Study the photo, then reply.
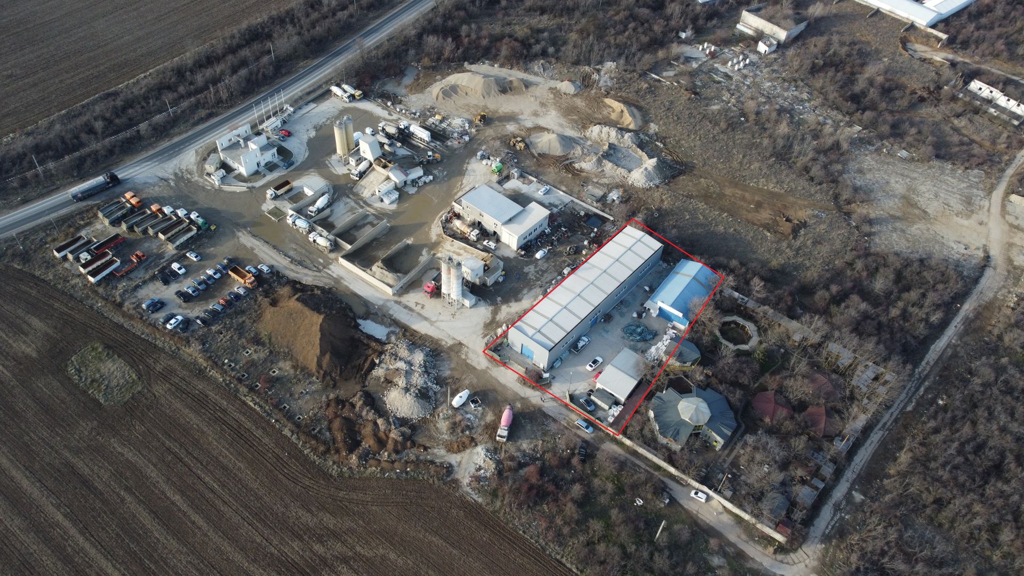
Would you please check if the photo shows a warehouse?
Yes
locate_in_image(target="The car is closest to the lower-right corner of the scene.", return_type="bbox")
[689,490,709,504]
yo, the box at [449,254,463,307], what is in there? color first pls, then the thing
white silo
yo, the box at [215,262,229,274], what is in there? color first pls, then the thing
blue vehicle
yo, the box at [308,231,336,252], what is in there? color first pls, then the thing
white truck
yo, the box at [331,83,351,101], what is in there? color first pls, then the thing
white vehicle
